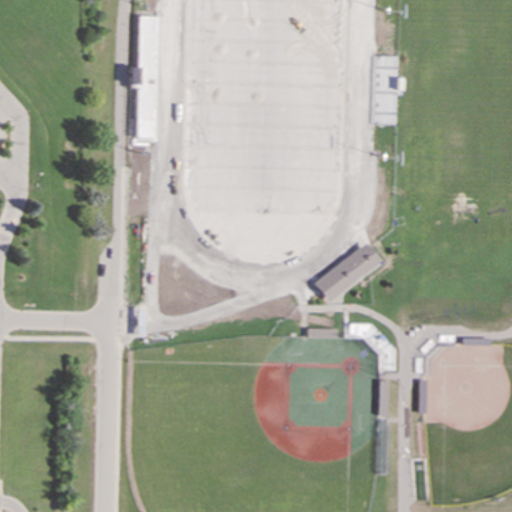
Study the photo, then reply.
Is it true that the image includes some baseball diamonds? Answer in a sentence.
Yes, the picture does show a baseball diamond.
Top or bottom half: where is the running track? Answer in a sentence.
You can find the running track in the top half.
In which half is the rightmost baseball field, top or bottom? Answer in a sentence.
Seen from above, the rightmost baseball field lies in the bottom half of the view.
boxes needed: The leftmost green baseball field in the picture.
[132,338,378,512]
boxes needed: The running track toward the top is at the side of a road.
[170,0,372,284]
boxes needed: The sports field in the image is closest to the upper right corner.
[187,0,344,264]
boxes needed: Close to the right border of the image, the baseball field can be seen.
[426,346,512,506]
